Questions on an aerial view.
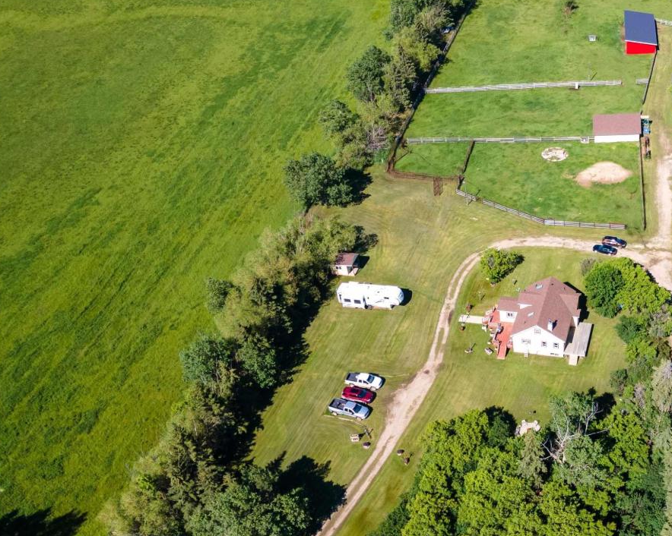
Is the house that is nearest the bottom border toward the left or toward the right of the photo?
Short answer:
right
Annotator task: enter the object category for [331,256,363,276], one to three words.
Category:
shed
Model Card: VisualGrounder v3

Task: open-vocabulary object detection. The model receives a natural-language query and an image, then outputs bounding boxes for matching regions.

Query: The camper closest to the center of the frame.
[330,283,398,308]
